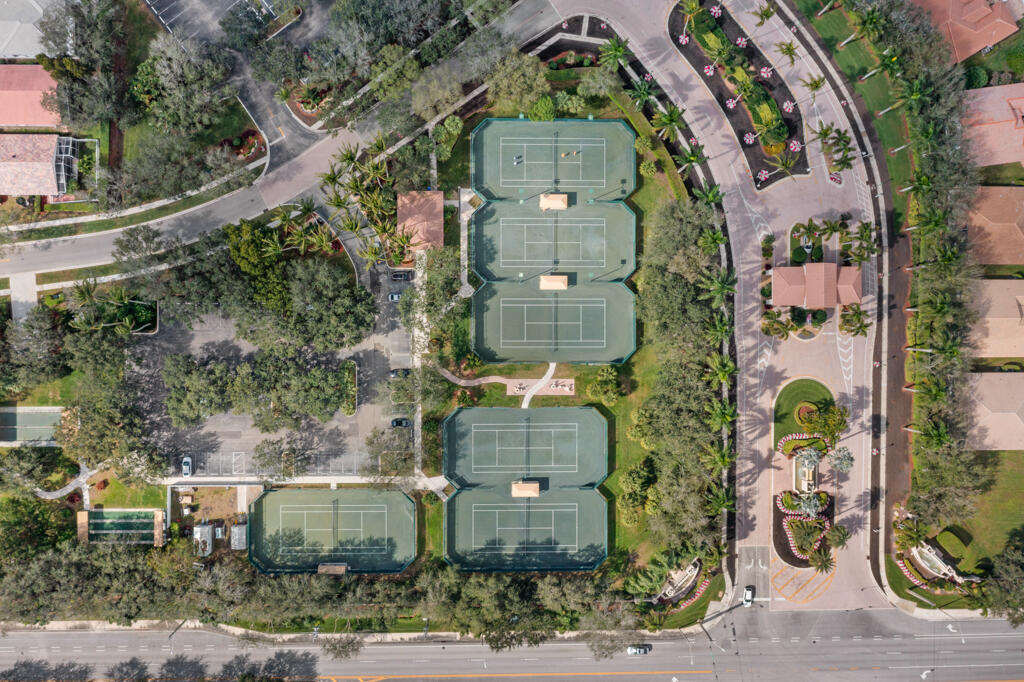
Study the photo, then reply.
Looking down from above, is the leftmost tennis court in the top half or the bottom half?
bottom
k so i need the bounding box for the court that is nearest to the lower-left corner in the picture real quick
[252,489,415,569]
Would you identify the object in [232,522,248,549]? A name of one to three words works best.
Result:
shed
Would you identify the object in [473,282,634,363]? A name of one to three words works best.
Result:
tennis court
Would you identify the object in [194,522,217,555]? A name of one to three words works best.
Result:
shed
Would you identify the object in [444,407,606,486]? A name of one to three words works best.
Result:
tennis court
